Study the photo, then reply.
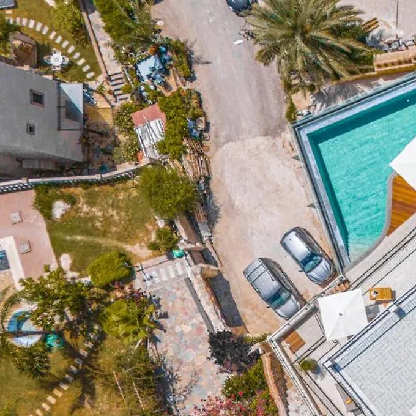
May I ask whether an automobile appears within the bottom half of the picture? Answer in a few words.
Yes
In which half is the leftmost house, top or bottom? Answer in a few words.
top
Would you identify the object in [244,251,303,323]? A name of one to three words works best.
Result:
car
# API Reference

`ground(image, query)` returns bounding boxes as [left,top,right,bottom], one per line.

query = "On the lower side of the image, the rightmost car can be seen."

[281,223,335,288]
